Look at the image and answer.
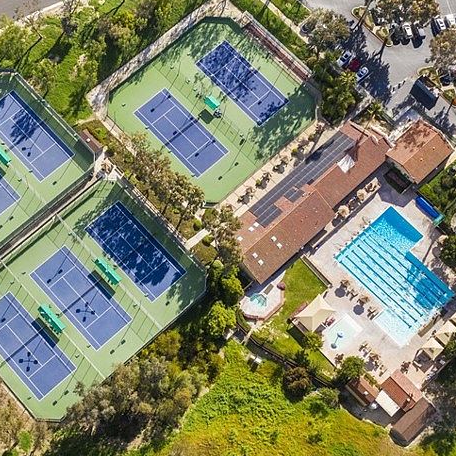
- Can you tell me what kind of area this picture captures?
sports ground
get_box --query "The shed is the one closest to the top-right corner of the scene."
[406,79,442,114]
